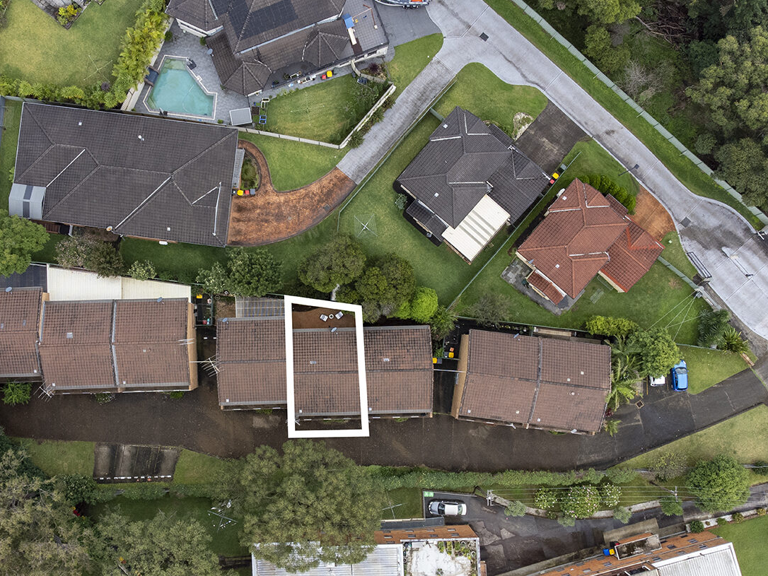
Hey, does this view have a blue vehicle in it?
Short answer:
Yes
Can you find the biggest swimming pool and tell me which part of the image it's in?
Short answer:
top left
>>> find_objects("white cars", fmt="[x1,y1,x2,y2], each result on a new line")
[427,500,466,516]
[648,360,666,389]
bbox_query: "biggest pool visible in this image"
[141,54,218,119]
